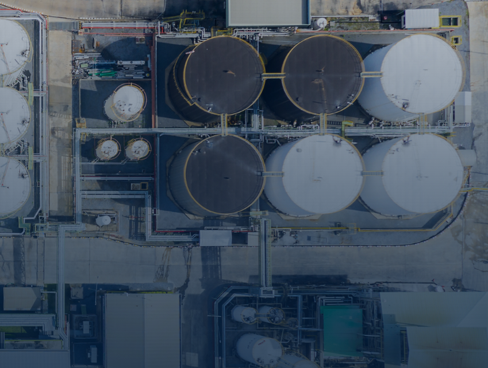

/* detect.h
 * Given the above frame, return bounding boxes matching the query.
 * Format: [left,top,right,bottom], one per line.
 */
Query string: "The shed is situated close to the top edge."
[397,8,440,30]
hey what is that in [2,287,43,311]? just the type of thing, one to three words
shed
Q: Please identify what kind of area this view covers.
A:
industrial area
